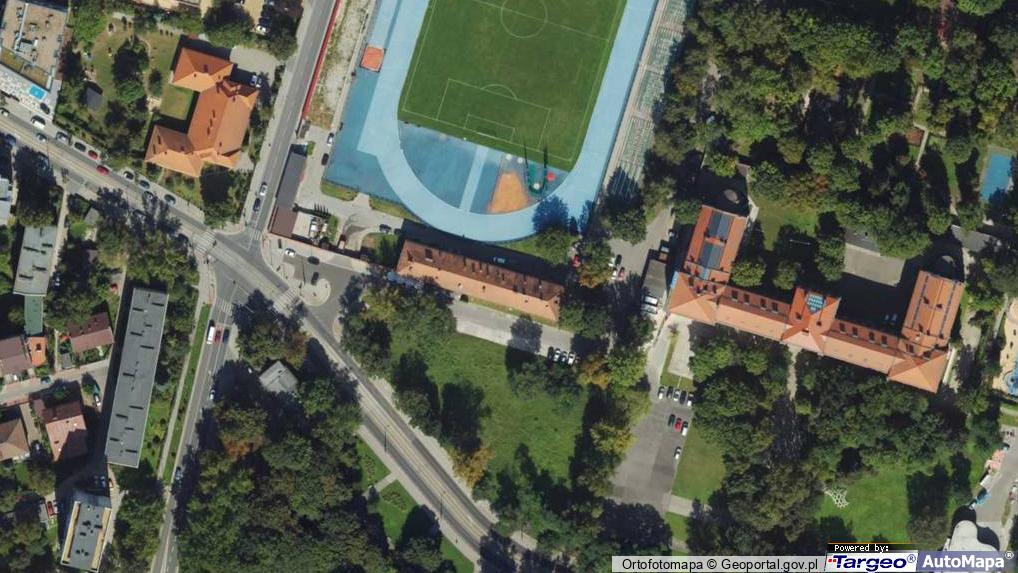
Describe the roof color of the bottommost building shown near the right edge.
white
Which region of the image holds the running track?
top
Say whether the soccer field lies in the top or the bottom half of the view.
top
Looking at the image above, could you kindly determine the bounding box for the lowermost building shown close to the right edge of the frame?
[947,519,1003,573]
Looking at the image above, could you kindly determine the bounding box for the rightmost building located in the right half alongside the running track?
[668,207,965,393]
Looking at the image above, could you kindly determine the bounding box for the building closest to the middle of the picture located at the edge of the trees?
[398,240,564,320]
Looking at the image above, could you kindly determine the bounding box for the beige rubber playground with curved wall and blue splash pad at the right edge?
[993,303,1018,397]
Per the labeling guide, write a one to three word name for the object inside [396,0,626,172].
soccer field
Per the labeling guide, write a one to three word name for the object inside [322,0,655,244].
running track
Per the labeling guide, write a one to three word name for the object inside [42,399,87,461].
house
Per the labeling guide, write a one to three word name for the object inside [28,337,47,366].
building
